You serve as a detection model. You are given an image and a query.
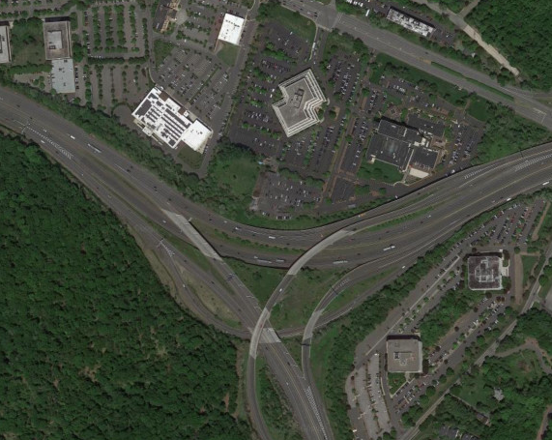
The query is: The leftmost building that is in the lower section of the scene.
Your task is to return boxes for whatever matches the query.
[387,339,421,372]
